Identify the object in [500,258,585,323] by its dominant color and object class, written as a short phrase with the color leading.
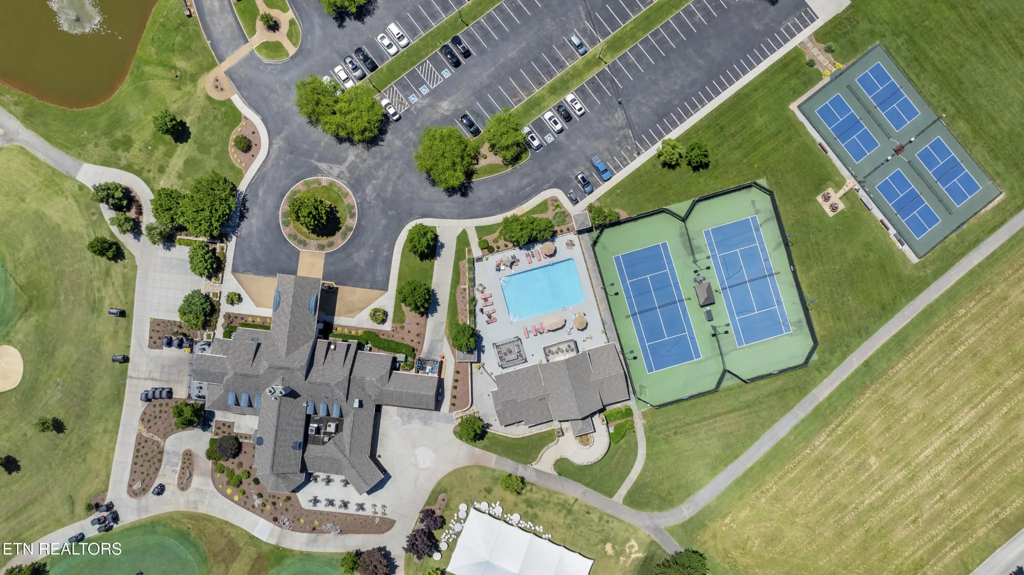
blue swimming pool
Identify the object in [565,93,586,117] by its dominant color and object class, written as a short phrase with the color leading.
white car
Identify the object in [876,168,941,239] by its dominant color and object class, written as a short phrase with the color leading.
blue sports court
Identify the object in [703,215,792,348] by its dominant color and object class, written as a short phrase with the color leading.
blue tennis court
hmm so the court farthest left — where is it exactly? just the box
[613,242,702,374]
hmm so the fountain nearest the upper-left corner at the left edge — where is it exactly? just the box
[47,0,124,52]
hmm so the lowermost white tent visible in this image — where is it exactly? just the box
[435,493,598,575]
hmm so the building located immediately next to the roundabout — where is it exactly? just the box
[191,274,440,495]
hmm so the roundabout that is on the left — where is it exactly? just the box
[279,176,357,253]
